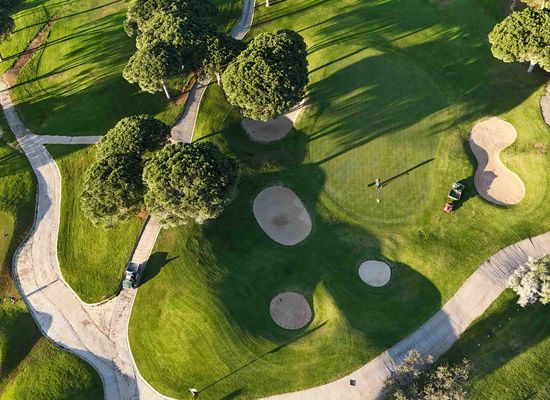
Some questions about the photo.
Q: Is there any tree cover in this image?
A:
Yes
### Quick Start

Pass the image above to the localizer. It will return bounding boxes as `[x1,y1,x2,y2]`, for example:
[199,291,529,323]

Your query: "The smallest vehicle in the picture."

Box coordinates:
[449,180,465,199]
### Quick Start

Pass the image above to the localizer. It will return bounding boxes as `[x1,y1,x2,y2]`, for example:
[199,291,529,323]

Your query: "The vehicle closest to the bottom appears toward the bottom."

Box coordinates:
[122,261,141,289]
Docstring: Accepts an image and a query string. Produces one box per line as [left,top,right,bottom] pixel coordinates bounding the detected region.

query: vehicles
[449,180,465,199]
[122,261,141,289]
